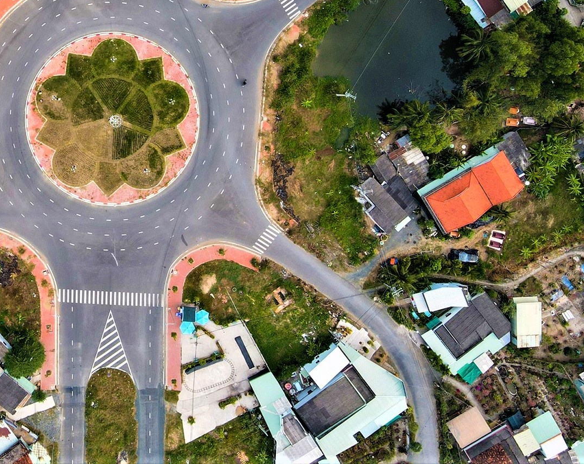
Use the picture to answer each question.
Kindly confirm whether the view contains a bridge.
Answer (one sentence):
No, I can see no bridge in this picture.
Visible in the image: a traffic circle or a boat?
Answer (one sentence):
The image shows a traffic circle.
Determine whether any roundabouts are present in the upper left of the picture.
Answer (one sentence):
Yes, there is a roundabout in the upper left of the picture.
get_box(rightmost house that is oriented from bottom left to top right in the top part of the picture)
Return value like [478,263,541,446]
[413,132,531,233]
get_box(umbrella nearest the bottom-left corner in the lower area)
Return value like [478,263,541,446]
[180,322,194,335]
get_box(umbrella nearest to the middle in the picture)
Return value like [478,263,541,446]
[195,310,208,324]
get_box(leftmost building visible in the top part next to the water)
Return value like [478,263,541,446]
[357,134,430,234]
